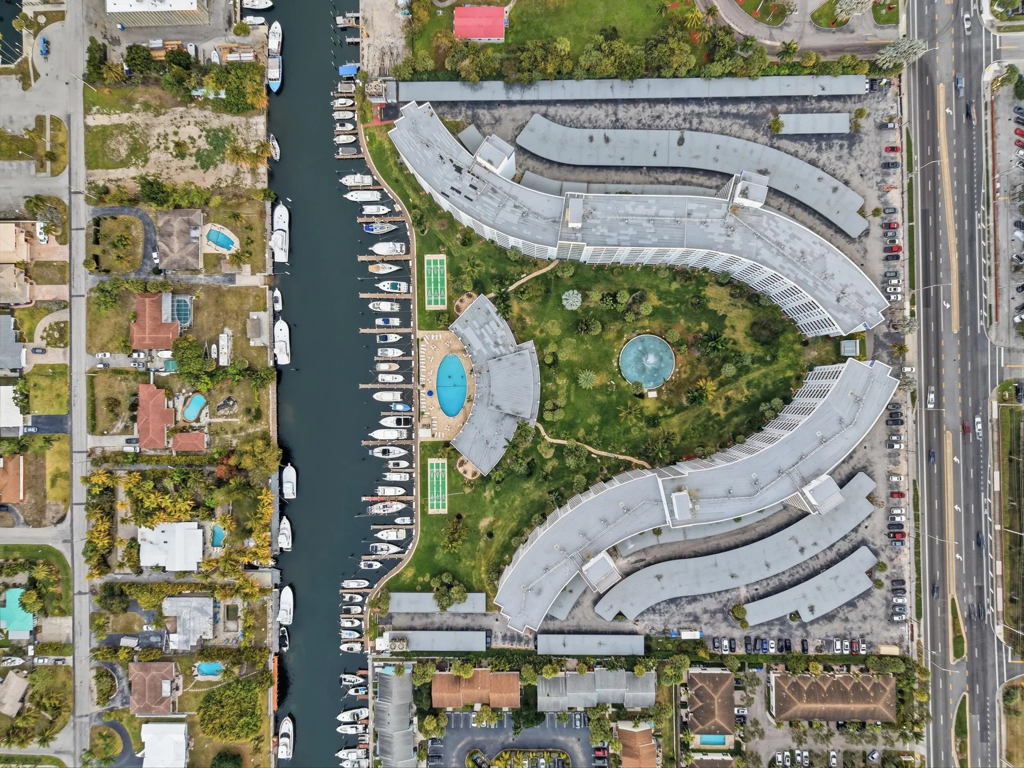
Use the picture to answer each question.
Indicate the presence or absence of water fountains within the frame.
Yes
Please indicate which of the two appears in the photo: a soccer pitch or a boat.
boat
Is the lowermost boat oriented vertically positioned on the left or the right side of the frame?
left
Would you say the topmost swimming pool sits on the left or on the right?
left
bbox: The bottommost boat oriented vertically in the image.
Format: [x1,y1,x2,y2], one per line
[272,716,292,762]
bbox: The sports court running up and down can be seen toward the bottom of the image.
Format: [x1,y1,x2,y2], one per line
[428,458,447,514]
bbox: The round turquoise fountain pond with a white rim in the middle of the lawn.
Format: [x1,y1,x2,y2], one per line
[620,334,675,389]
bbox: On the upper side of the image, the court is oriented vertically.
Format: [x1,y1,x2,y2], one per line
[424,254,447,310]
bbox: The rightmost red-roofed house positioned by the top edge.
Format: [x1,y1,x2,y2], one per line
[454,7,504,42]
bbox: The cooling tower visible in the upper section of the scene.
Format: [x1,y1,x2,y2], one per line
[365,84,383,96]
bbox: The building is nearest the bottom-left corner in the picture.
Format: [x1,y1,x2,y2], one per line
[0,669,29,719]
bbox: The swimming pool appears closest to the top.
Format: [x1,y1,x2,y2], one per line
[205,228,235,251]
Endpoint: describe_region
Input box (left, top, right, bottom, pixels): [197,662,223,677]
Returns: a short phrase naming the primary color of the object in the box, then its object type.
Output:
blue swimming pool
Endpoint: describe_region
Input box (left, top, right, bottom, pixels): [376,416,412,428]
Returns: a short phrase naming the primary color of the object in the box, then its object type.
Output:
white boat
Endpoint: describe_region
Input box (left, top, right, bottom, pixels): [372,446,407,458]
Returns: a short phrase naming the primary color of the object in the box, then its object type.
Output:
white boat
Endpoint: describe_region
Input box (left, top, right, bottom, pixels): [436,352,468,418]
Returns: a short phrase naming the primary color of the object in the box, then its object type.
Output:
blue swimming pool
